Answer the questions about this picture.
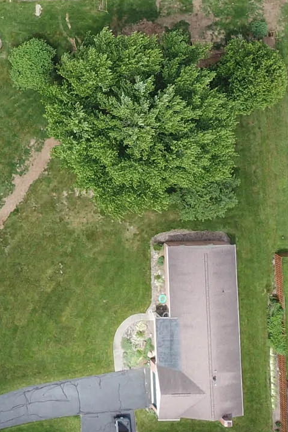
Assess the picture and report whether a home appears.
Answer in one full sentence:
Yes, you can see a home in this photo.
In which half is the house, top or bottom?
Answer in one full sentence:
You can find the house in the bottom half.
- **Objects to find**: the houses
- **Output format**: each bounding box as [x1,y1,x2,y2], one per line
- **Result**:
[151,242,245,423]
